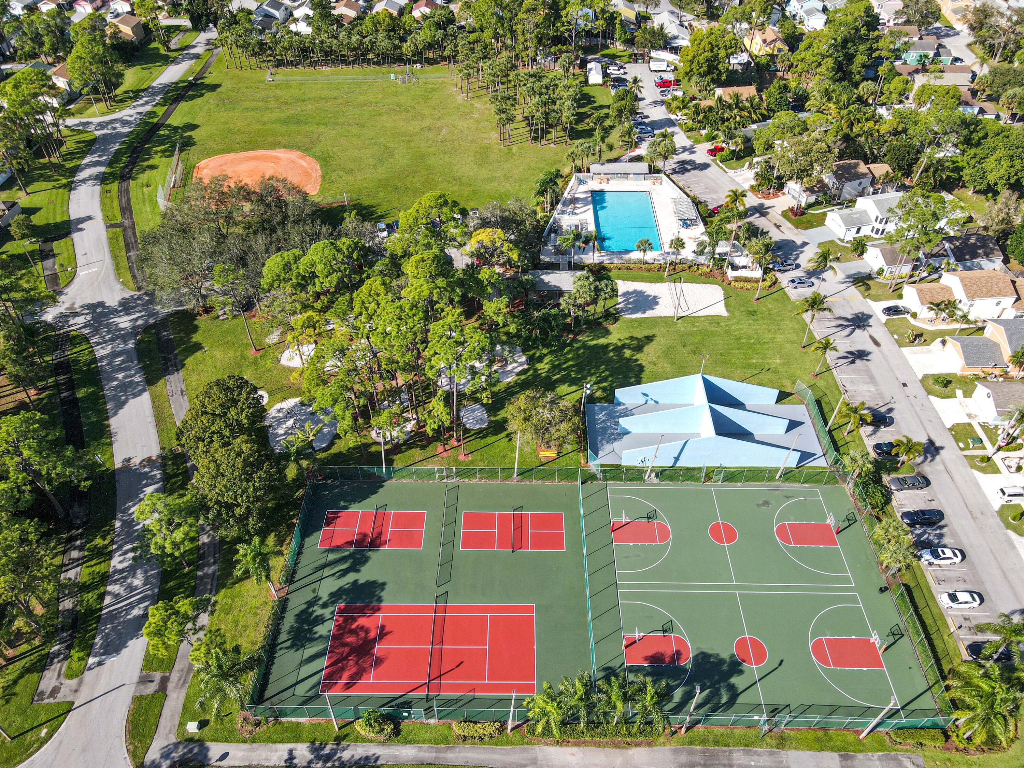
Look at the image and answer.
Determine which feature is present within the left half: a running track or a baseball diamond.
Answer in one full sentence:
Visible within the left half is a baseball diamond.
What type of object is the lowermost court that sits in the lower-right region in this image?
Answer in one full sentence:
It turns out the lowermost court that sits in the lower-right region is a basketball court.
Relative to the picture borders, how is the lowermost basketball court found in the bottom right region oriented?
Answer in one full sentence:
In this picture, the lowermost basketball court found in the bottom right region is oriented from side to side.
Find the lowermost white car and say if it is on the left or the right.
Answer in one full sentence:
The lowermost white car appears in the right half of the scene.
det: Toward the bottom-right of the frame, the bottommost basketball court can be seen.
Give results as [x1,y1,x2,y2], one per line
[619,589,906,720]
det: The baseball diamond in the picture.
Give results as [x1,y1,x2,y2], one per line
[193,150,321,212]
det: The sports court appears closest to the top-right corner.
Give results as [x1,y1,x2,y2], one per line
[617,281,728,317]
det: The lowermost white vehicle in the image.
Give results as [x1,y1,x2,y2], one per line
[942,591,985,611]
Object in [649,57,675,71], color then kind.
white vehicle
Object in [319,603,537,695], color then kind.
red tennis court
